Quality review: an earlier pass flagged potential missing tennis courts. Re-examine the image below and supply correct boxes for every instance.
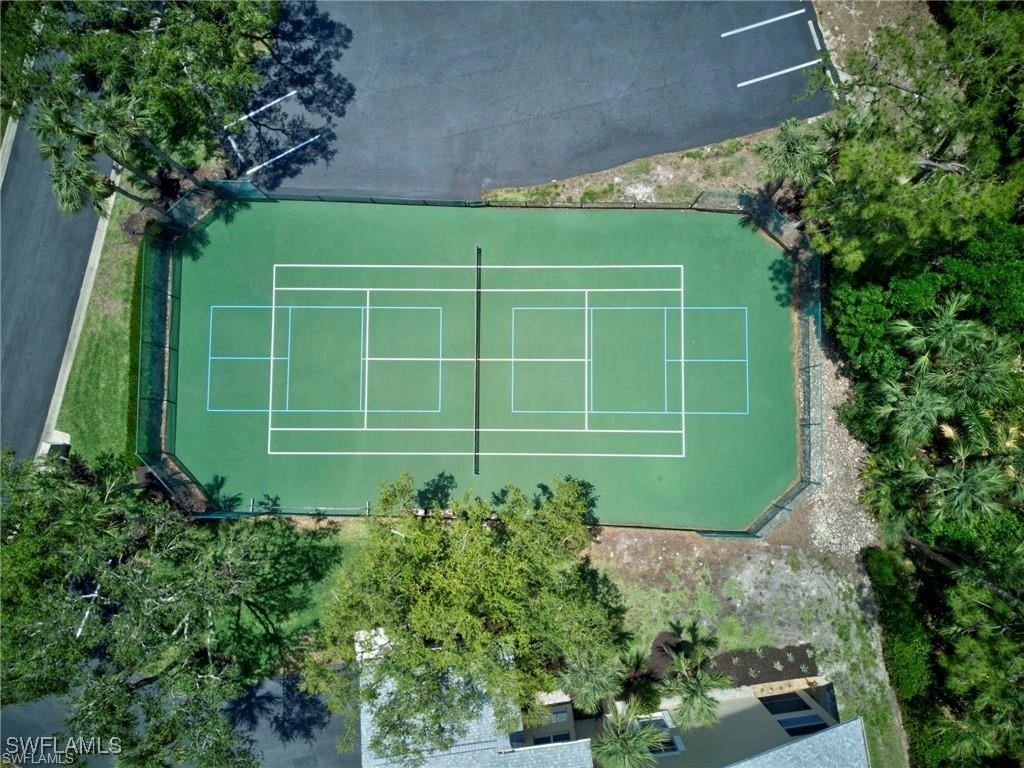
[165,201,799,530]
